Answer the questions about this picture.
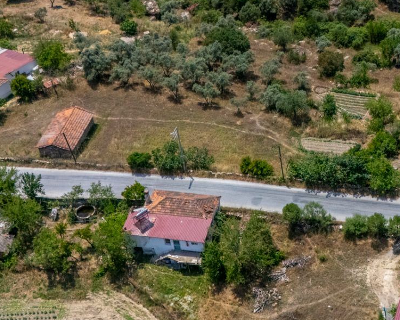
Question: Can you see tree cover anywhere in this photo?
Yes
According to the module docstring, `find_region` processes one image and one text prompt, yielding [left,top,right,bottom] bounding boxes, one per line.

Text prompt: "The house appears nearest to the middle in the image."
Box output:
[124,184,228,274]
